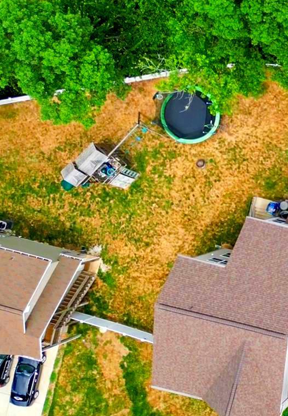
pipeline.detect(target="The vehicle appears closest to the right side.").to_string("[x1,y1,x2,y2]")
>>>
[10,353,49,407]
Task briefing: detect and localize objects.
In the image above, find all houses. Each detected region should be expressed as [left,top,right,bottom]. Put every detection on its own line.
[152,215,288,416]
[0,230,102,366]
